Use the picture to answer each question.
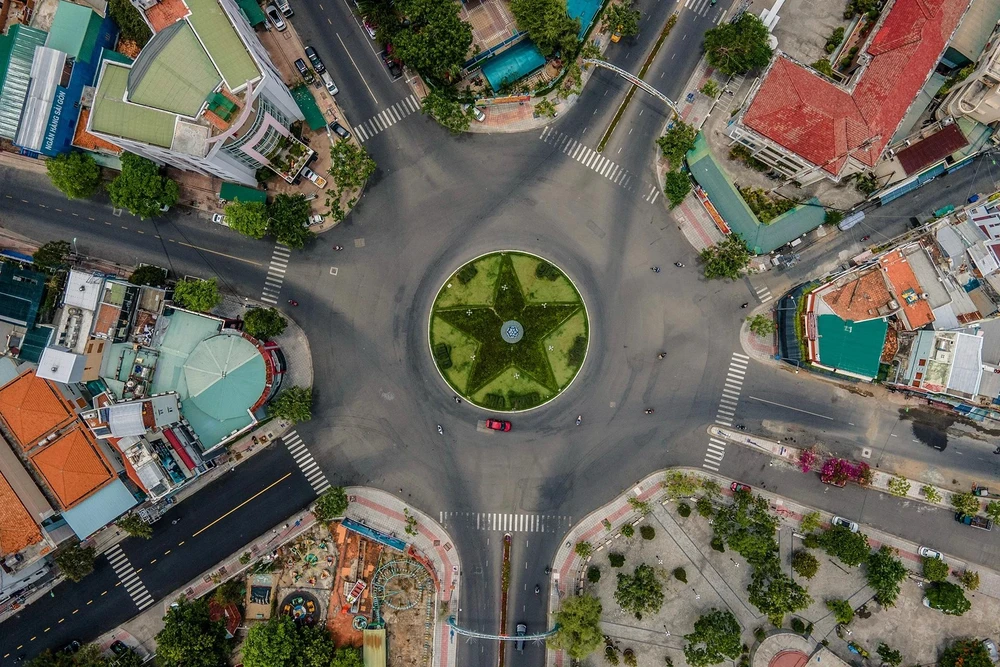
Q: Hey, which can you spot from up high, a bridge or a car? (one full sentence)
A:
The one in the frame is a car.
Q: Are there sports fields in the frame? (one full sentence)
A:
No, no sports field can be seen from above.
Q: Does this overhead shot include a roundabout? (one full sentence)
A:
Yes, the image includes a roundabout.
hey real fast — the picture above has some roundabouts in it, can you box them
[429,251,591,412]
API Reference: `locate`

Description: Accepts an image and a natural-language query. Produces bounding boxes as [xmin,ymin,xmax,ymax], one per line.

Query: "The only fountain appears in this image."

[500,319,523,343]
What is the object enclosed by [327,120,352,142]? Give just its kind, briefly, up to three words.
car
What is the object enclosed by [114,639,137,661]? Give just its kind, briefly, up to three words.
car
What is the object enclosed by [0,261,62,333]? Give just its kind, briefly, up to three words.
building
